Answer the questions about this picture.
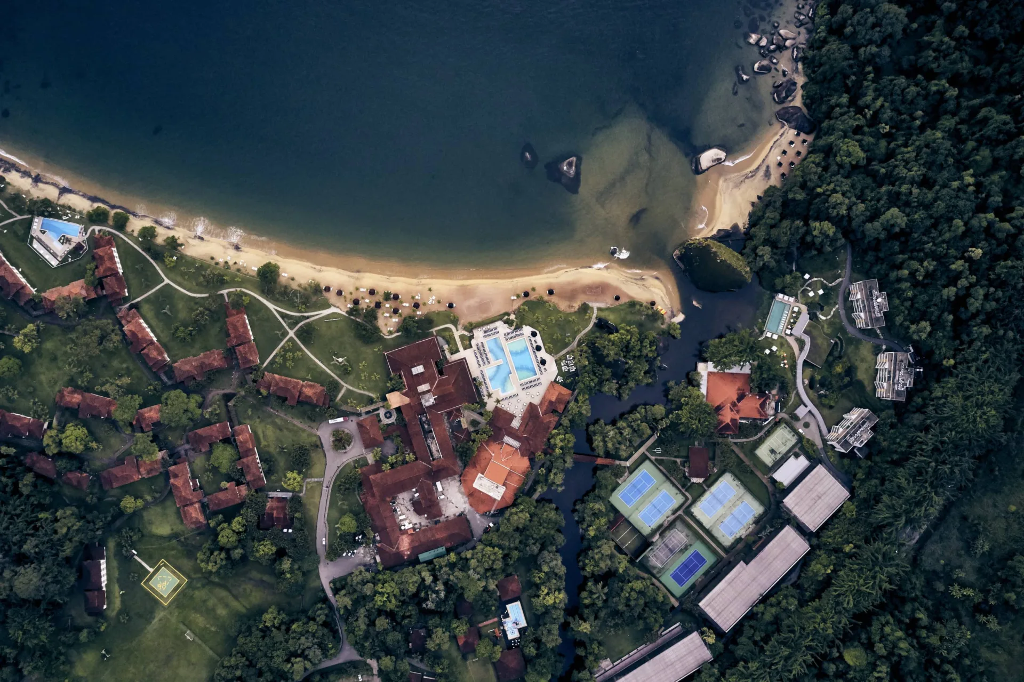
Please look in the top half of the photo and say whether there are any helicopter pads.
No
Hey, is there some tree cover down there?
Yes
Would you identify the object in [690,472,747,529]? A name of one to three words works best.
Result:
tennis court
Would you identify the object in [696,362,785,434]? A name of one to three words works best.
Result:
building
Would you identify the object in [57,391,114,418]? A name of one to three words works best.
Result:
house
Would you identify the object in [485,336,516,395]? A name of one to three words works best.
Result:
swimming pool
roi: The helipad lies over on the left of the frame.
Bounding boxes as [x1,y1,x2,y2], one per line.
[141,559,188,605]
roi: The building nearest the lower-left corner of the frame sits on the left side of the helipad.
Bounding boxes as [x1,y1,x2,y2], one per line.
[83,542,111,613]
